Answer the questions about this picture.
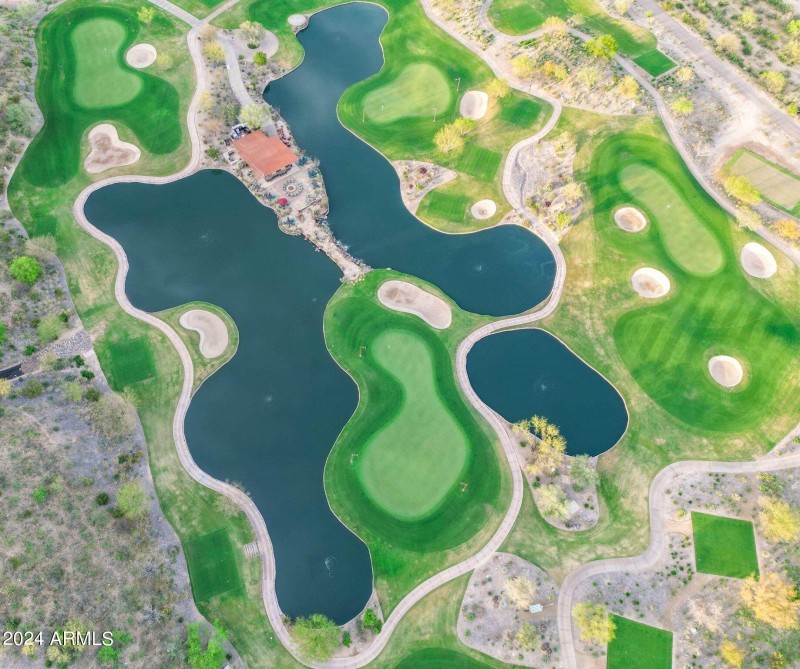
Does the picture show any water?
Yes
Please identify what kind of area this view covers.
golf course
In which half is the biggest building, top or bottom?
top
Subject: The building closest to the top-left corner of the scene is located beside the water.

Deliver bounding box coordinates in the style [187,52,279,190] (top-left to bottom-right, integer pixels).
[233,129,299,184]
